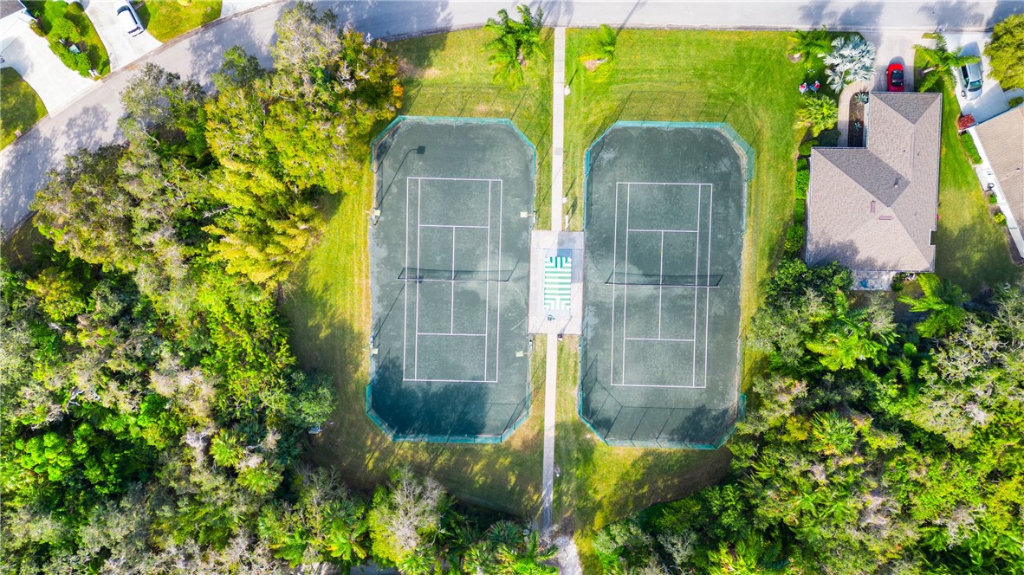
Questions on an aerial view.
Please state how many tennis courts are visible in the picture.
2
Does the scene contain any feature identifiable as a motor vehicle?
Yes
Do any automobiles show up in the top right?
Yes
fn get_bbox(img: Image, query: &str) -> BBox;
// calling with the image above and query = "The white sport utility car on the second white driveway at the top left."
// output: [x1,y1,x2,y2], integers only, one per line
[111,0,144,38]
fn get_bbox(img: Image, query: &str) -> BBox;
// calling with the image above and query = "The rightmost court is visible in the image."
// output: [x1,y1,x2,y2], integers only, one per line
[578,128,746,442]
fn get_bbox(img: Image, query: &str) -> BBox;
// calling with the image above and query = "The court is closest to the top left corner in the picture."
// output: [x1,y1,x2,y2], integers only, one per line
[371,122,534,437]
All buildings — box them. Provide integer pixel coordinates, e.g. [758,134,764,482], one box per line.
[969,103,1024,250]
[801,90,943,274]
[0,0,33,30]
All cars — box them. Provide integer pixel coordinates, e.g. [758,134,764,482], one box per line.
[886,63,908,91]
[956,52,984,97]
[111,0,144,38]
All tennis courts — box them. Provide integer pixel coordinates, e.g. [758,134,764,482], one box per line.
[578,128,746,442]
[371,122,534,437]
